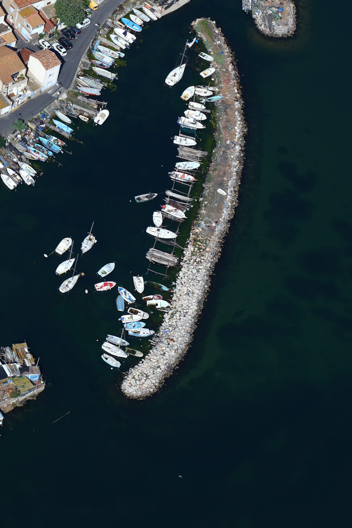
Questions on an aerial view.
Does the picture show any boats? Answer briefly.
Yes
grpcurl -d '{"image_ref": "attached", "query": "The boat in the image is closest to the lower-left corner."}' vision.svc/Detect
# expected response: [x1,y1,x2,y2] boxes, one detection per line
[100,353,120,367]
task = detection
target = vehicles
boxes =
[61,28,76,40]
[58,37,73,50]
[37,39,53,51]
[53,44,67,57]
[69,26,82,36]
[75,19,91,29]
[87,0,103,13]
